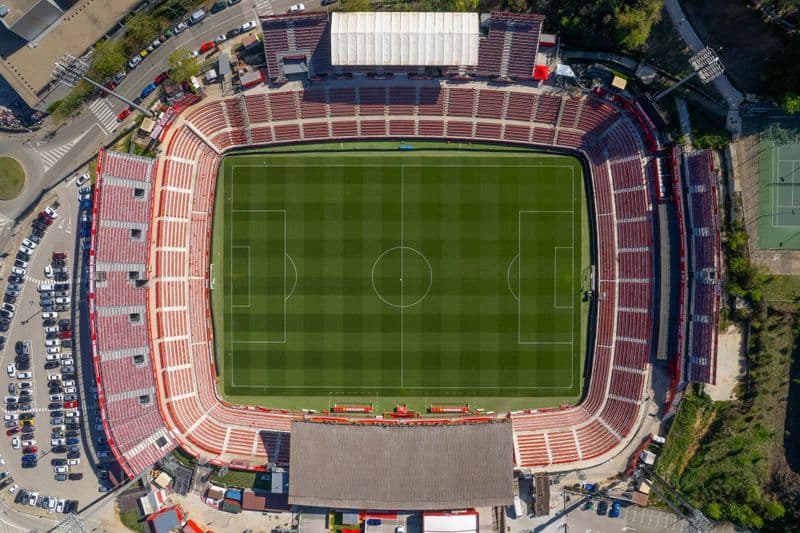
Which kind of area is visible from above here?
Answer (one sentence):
This looks like a sports ground.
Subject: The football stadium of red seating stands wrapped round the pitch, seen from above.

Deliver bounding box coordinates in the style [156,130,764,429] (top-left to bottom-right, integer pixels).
[91,7,722,510]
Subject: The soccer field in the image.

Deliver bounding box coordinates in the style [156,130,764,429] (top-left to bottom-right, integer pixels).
[212,138,595,417]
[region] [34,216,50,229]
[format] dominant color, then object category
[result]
black vehicle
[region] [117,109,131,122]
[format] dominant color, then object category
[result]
red vehicle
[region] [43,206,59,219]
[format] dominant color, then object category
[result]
white vehicle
